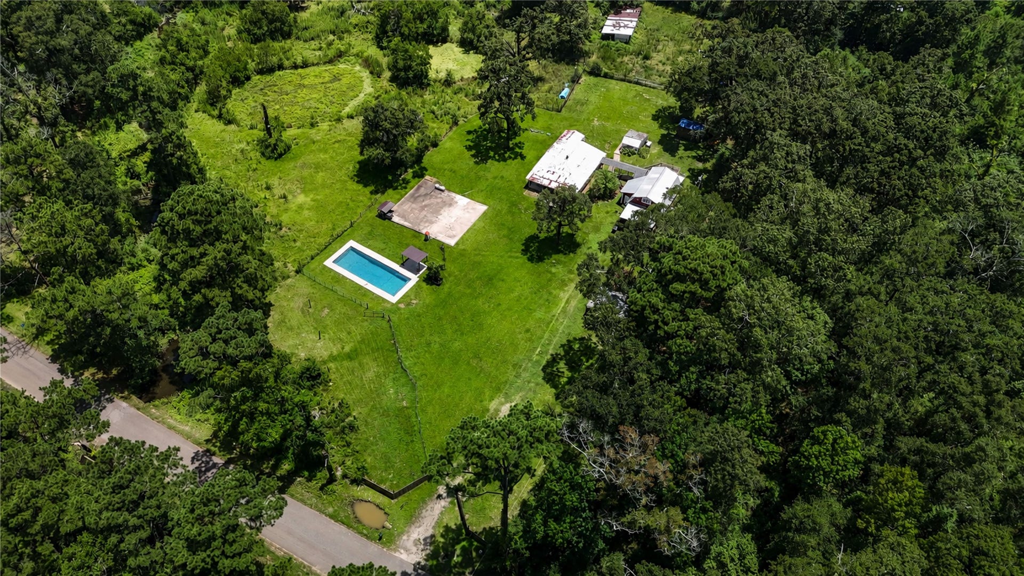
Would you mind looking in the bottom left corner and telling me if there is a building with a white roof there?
No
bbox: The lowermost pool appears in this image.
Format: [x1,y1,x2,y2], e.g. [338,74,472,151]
[323,240,420,304]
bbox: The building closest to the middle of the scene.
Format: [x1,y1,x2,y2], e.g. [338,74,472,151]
[400,245,429,275]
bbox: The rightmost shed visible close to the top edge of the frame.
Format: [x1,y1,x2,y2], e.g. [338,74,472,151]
[602,6,633,44]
